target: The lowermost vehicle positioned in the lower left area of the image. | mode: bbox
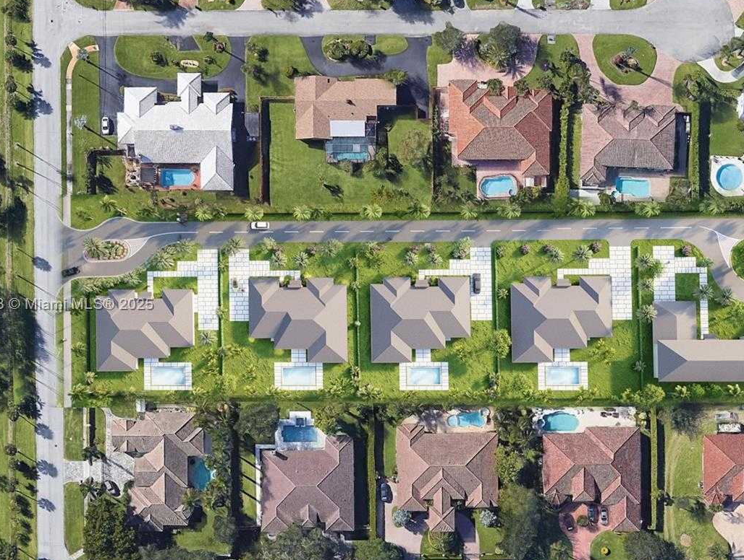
[106,480,119,497]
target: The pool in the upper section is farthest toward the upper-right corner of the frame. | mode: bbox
[715,163,743,191]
